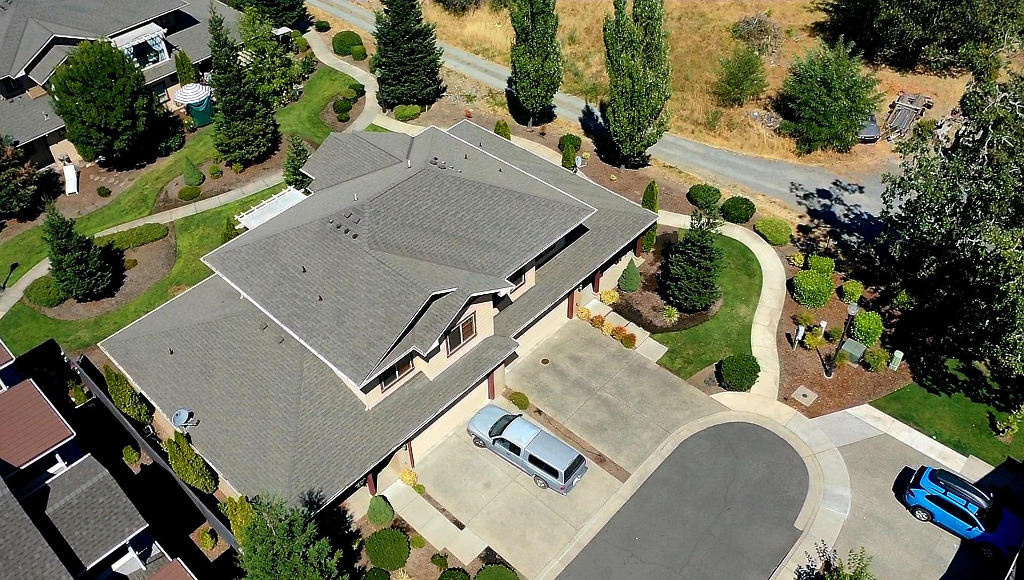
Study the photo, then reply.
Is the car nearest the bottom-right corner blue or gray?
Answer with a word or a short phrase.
blue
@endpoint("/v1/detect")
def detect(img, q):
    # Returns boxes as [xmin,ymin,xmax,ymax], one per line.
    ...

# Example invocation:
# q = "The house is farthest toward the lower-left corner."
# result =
[0,342,199,580]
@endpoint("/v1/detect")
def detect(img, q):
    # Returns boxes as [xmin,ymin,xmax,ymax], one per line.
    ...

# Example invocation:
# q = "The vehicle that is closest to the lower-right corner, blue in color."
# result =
[900,462,1024,566]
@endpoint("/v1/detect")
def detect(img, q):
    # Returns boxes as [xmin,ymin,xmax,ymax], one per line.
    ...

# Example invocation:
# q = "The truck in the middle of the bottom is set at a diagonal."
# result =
[467,403,593,499]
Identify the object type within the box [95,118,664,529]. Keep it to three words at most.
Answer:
house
